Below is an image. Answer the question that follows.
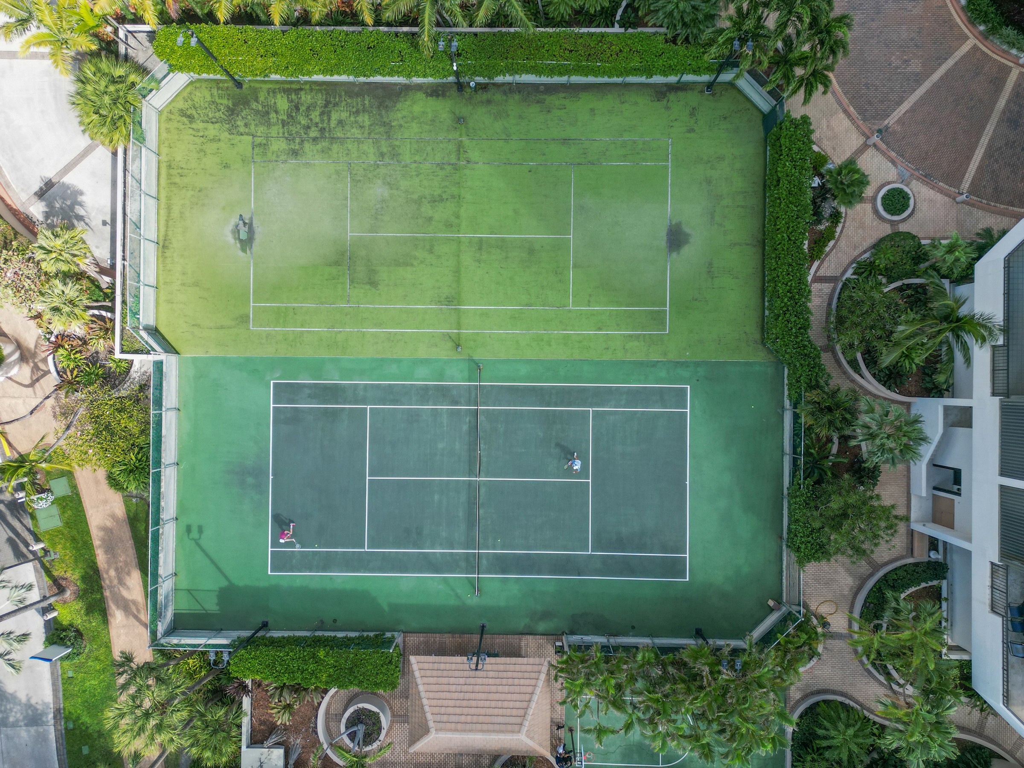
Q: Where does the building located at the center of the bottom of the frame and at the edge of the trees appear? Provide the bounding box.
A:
[406,651,553,759]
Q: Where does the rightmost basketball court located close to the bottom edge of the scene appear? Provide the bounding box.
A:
[564,637,785,768]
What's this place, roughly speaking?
sports ground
